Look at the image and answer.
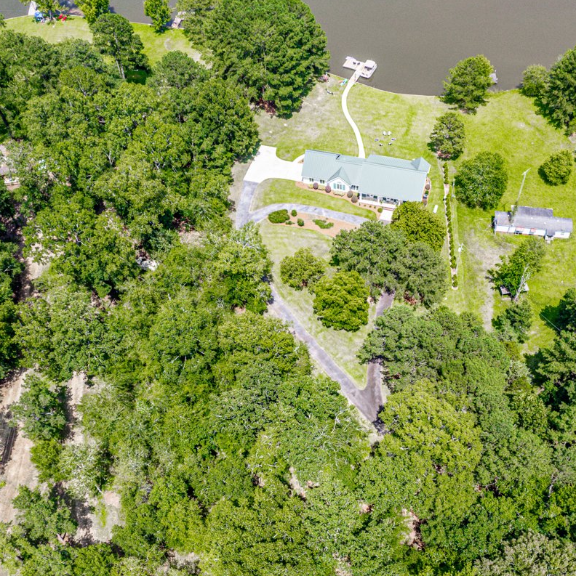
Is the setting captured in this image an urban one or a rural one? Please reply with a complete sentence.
It looks rural.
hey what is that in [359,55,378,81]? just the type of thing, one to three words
boat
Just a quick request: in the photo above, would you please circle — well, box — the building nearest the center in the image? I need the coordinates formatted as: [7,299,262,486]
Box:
[301,147,434,215]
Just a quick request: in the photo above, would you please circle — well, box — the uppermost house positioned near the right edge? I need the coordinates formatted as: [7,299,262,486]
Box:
[493,204,573,248]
